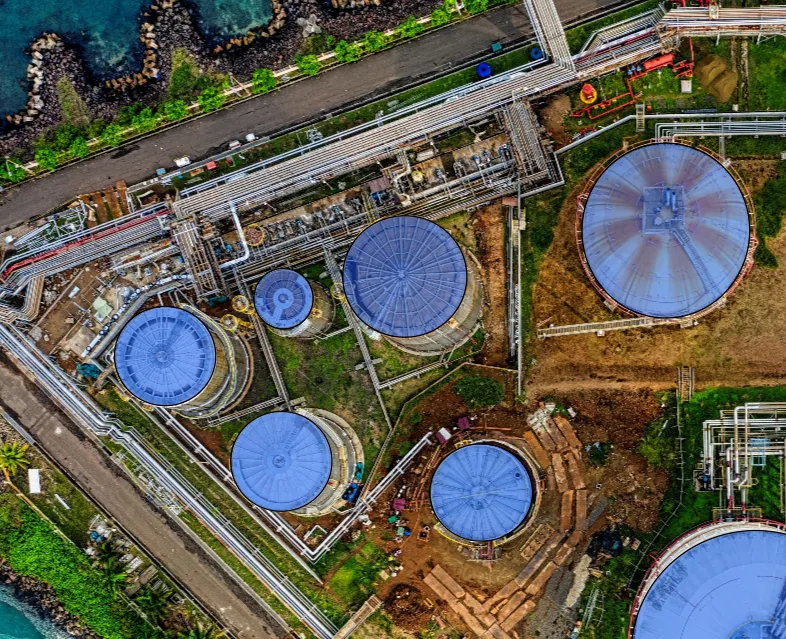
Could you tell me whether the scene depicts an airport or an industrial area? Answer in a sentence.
This looks like an industrial area.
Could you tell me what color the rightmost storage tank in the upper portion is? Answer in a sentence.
The rightmost storage tank in the upper portion is blue.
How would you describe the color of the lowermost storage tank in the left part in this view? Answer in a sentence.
The color of the lowermost storage tank in the left part is blue.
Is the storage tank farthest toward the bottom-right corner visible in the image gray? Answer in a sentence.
No, the storage tank farthest toward the bottom-right corner is blue.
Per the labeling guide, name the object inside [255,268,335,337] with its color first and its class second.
blue storage tank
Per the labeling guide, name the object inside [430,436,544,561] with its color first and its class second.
blue storage tank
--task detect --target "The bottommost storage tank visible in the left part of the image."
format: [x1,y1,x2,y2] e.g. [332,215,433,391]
[230,403,358,512]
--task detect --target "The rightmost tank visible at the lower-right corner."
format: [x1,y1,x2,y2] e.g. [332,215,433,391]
[625,520,786,639]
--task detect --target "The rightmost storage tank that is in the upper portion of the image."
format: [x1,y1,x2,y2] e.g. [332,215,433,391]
[576,135,761,326]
